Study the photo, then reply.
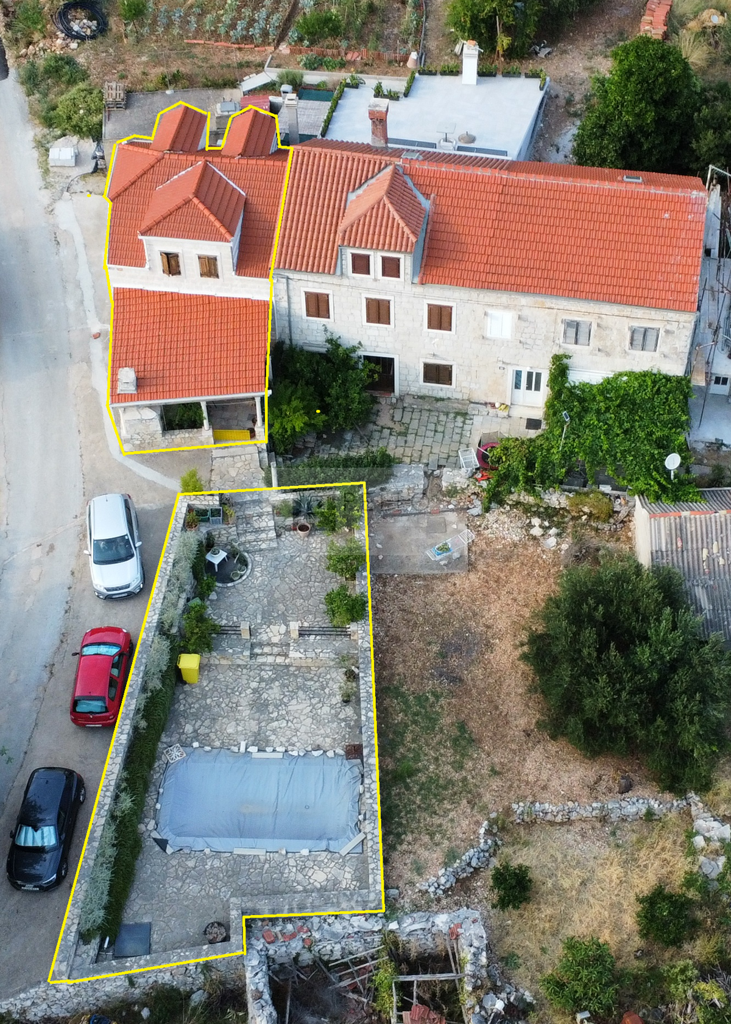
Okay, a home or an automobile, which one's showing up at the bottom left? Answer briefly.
automobile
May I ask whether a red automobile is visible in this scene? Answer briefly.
Yes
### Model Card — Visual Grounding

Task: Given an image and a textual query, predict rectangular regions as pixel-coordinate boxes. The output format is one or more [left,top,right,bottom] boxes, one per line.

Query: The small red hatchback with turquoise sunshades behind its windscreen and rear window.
[69,631,129,732]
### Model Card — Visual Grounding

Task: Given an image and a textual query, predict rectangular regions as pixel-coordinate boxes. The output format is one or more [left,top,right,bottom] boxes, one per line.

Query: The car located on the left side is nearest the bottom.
[2,769,81,897]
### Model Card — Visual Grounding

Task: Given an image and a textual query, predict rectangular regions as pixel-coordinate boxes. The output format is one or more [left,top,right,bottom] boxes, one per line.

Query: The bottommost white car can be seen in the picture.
[84,497,146,604]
